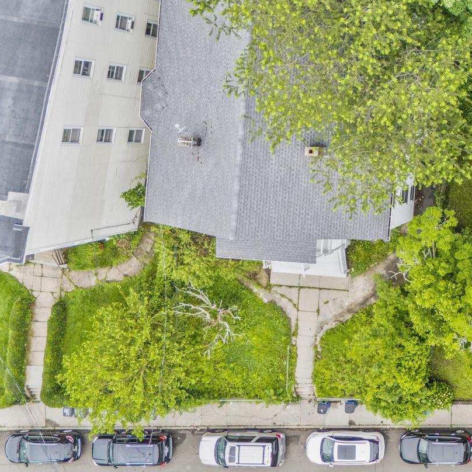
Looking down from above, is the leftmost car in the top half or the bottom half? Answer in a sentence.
The leftmost car is in the bottom half of the image.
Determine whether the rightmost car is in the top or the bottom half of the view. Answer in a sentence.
The rightmost car sits in the bottom half of the picture.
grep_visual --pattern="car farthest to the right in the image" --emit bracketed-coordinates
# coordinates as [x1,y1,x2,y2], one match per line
[400,429,472,470]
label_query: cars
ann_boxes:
[199,429,289,472]
[306,429,387,471]
[7,429,86,468]
[91,430,176,472]
[400,429,472,470]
